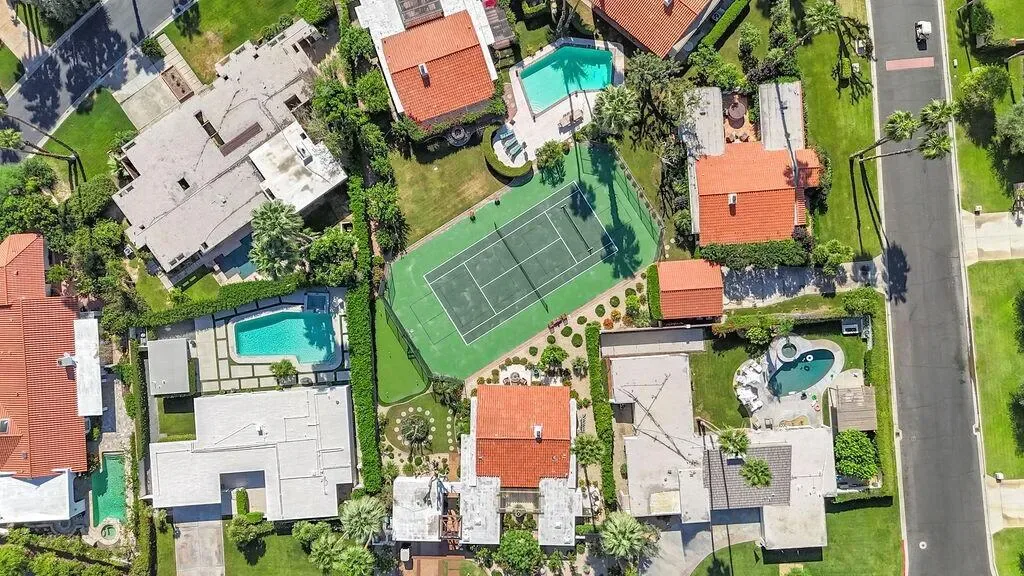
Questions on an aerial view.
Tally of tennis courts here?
1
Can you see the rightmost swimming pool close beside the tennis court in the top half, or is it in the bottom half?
top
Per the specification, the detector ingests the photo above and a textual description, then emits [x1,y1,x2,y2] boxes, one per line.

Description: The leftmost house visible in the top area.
[111,19,348,272]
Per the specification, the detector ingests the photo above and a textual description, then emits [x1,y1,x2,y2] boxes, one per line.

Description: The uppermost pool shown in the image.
[519,43,615,115]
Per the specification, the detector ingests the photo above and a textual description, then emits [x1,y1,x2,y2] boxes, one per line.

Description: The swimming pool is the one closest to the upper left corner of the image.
[215,236,261,279]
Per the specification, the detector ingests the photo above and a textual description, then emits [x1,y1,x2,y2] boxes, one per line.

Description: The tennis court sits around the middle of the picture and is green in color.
[384,139,663,381]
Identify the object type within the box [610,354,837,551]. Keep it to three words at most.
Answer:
house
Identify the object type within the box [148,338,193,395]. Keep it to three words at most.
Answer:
building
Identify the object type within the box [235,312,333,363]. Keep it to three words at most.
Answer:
swimming pool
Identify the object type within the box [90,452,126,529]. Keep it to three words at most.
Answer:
swimming pool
